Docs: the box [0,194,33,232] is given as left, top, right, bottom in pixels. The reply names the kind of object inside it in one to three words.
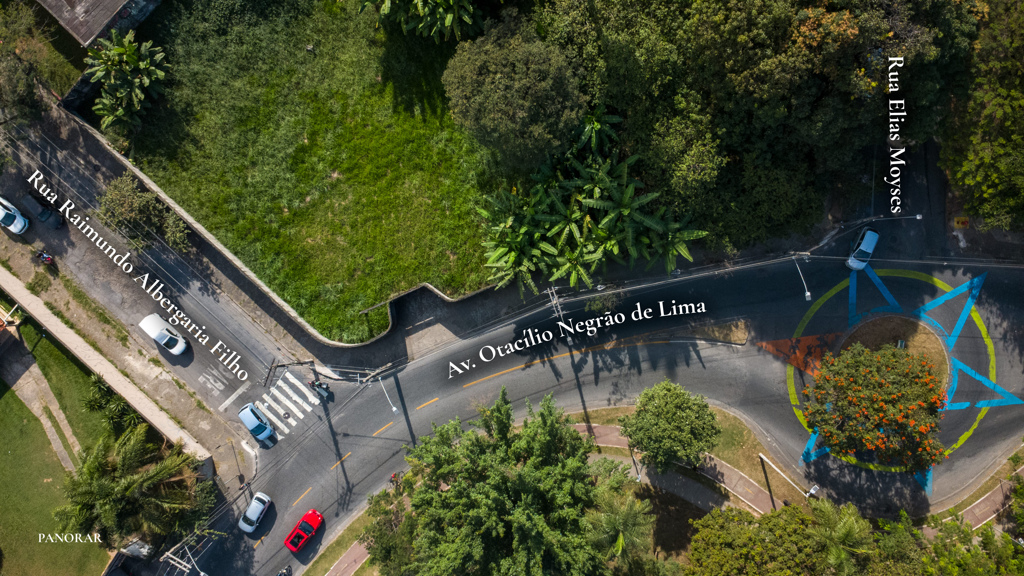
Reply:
car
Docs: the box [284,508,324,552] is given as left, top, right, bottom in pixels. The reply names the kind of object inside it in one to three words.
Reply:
car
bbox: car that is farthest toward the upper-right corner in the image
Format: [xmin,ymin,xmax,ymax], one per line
[847,227,879,271]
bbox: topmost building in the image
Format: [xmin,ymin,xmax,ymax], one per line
[35,0,166,61]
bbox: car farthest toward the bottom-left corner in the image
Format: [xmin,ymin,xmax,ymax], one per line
[239,490,273,534]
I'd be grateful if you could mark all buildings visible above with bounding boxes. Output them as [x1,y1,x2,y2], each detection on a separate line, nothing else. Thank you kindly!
[35,0,166,61]
[0,302,23,346]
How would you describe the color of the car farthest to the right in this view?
blue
